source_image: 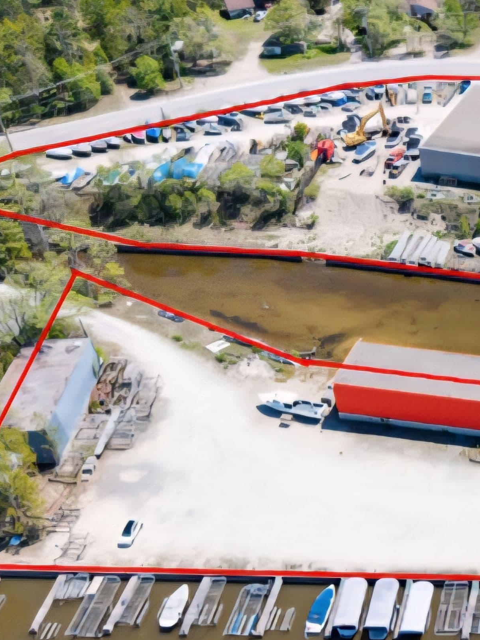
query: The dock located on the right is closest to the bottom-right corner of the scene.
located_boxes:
[460,585,479,640]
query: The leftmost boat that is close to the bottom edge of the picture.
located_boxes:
[157,585,192,633]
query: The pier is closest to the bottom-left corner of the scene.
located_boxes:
[29,577,68,634]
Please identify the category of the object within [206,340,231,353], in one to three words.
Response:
boat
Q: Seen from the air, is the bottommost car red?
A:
No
